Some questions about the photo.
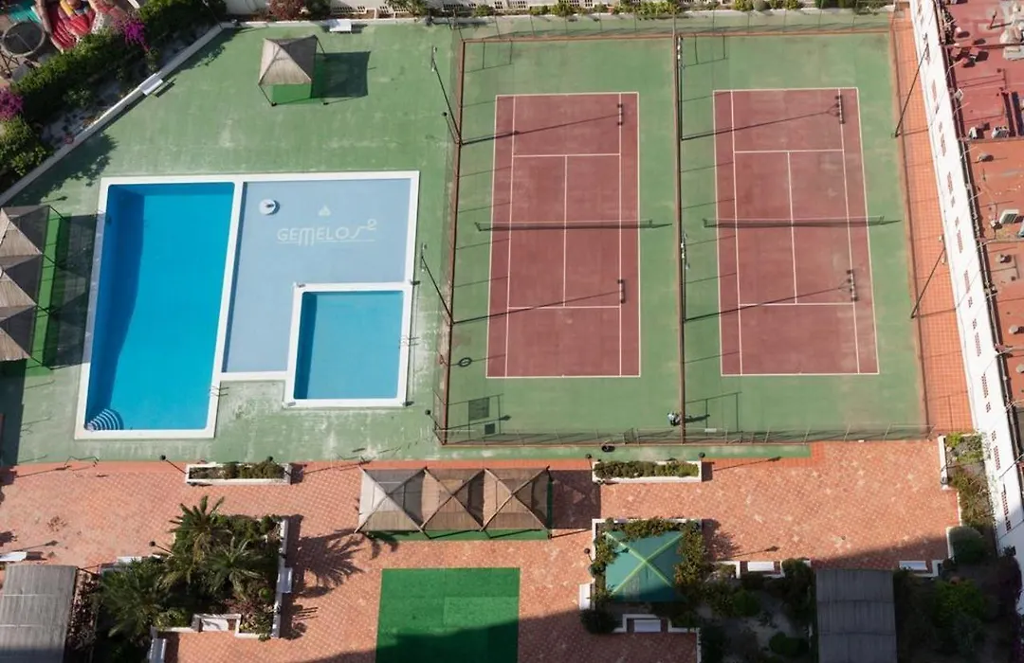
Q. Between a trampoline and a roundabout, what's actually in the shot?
trampoline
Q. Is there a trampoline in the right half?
No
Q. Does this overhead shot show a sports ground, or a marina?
sports ground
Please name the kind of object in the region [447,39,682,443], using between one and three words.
tennis court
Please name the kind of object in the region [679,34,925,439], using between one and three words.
tennis court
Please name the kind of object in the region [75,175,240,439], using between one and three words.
swimming pool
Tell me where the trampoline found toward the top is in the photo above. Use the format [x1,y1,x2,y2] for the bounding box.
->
[1,21,47,62]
